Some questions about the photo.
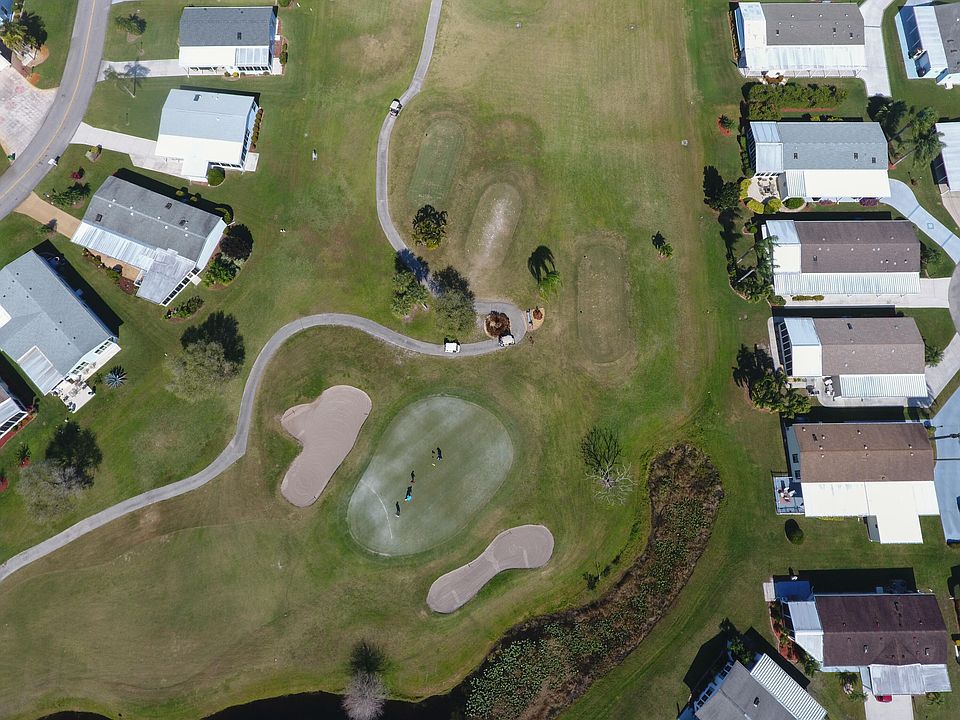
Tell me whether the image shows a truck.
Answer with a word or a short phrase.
No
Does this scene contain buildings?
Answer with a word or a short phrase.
Yes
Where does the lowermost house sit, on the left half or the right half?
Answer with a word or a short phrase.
right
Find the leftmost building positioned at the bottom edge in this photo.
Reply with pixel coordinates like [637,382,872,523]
[671,649,828,720]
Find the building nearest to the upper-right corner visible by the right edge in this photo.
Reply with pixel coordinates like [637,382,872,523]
[900,3,960,94]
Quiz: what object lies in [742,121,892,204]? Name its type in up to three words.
house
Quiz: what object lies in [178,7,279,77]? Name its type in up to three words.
house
